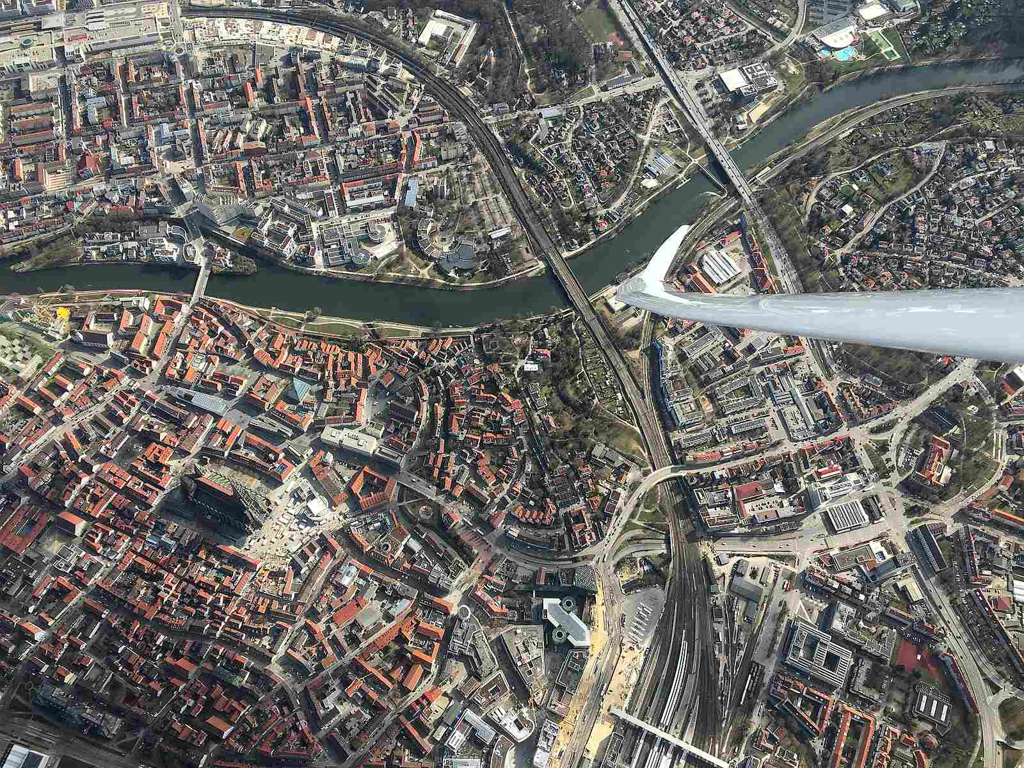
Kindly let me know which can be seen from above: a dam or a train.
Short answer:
train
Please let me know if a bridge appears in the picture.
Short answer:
Yes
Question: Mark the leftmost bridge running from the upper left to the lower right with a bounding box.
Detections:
[544,248,595,321]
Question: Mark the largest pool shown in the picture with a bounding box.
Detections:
[832,45,859,62]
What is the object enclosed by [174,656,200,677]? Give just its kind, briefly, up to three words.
house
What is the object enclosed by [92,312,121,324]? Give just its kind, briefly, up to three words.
house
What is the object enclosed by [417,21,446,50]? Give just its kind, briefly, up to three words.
building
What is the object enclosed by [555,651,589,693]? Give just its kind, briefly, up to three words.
building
